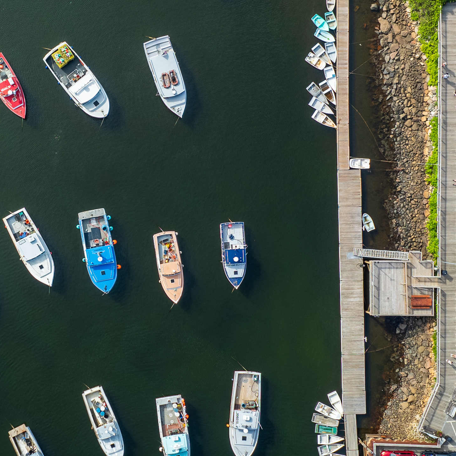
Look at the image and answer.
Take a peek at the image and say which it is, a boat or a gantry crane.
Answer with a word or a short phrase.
boat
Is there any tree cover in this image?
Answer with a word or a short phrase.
No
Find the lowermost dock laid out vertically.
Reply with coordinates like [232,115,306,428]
[343,415,358,450]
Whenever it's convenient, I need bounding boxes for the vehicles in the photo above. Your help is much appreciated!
[419,449,456,456]
[380,450,416,456]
